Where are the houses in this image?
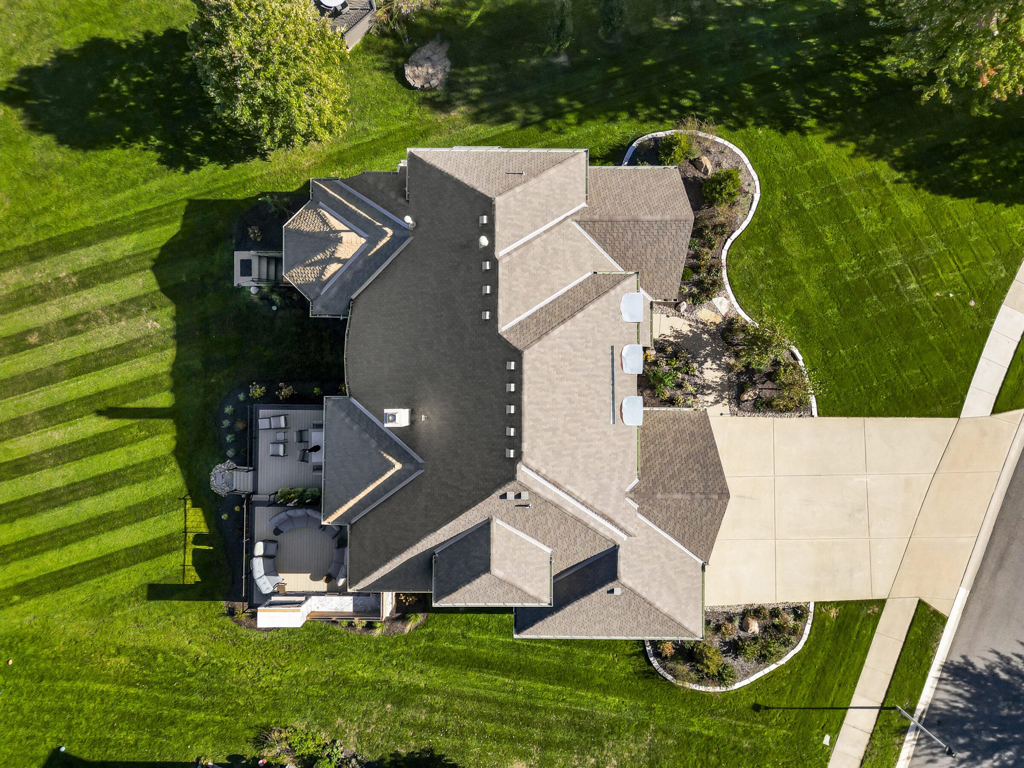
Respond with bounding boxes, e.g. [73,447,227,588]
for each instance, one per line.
[281,145,730,642]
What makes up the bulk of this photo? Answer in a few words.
grass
